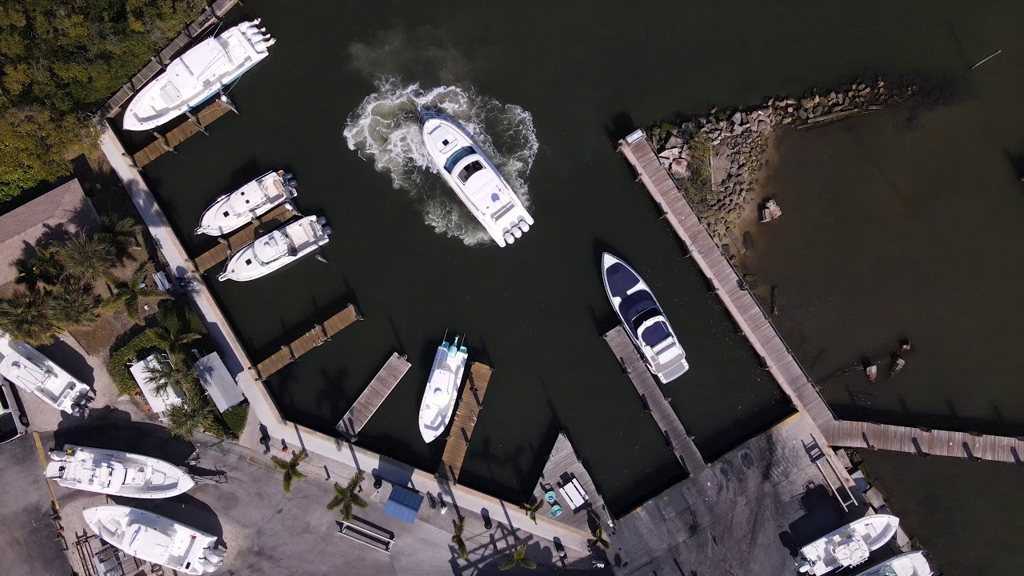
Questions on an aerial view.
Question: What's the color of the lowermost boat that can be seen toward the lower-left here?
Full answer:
In this view, the lowermost boat that can be seen toward the lower-left is white.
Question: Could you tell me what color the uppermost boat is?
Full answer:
From above, the uppermost boat appears white.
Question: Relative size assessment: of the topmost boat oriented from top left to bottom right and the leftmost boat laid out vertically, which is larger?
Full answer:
The topmost boat oriented from top left to bottom right is larger than the leftmost boat laid out vertically.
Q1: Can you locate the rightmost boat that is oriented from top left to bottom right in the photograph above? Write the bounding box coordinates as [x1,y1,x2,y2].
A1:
[602,255,687,384]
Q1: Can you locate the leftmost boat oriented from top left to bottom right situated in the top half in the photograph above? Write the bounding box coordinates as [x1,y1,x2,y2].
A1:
[421,114,538,254]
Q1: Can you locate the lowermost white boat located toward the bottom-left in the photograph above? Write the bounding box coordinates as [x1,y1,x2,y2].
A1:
[83,503,239,574]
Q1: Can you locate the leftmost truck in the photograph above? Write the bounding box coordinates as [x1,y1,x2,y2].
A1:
[0,374,31,444]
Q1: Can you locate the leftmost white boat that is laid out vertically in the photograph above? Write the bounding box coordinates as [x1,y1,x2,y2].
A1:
[422,333,469,441]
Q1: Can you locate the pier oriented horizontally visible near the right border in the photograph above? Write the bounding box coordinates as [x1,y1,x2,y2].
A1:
[808,417,1024,464]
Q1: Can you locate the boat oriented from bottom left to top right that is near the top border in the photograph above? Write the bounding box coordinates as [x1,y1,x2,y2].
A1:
[124,15,275,131]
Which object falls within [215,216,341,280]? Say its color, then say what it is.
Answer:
white boat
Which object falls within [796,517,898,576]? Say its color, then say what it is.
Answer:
white boat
